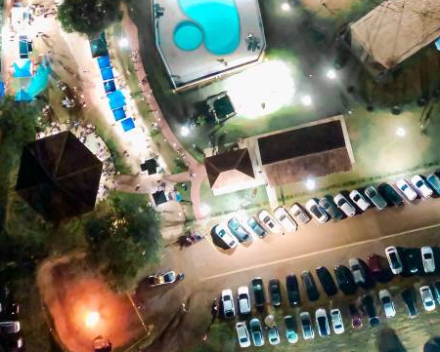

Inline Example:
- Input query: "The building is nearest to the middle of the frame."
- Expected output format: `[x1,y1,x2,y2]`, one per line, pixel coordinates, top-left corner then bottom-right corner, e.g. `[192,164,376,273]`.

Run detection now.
[205,149,256,195]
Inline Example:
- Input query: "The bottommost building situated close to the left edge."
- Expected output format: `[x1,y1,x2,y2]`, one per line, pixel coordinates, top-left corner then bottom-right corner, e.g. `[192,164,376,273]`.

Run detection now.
[16,131,104,222]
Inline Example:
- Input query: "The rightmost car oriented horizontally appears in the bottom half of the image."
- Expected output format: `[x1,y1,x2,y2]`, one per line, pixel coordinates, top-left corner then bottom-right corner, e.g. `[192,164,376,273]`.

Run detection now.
[148,269,184,287]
